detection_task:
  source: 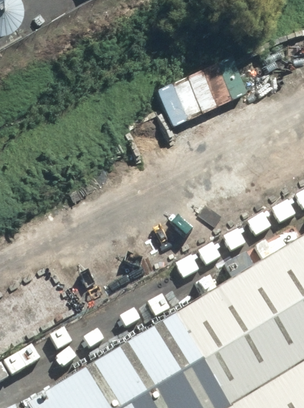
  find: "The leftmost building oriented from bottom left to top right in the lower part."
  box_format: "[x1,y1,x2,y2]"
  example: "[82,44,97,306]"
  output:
[2,344,40,376]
